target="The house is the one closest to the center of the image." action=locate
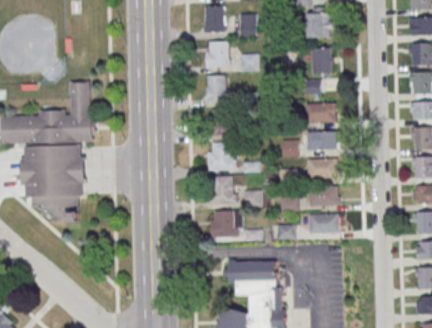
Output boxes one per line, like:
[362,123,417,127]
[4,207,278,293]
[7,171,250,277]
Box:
[206,142,237,174]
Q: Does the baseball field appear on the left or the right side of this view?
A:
left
